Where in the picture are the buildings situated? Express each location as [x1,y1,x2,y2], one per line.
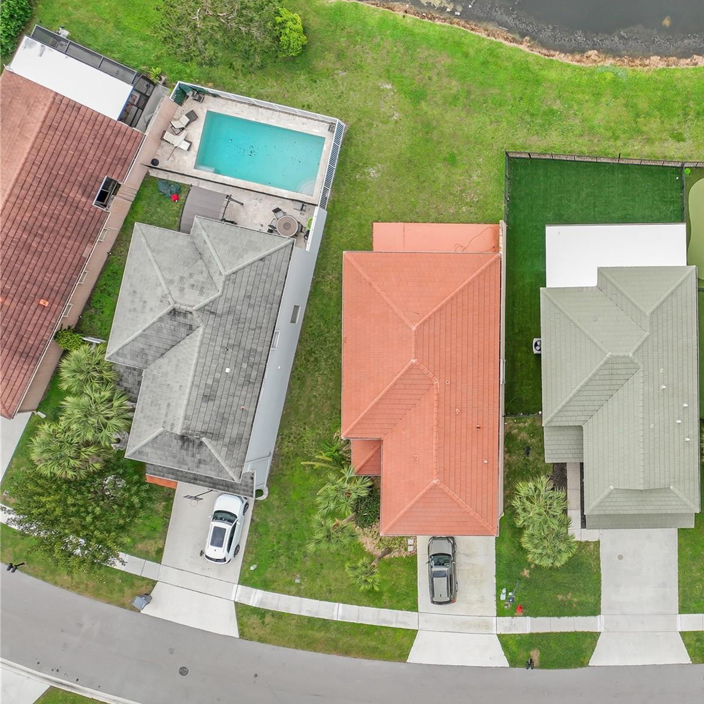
[339,249,507,537]
[104,215,318,499]
[0,34,158,420]
[540,223,702,529]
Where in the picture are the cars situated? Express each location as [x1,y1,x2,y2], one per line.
[203,493,247,564]
[425,536,458,606]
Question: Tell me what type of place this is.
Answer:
residential area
